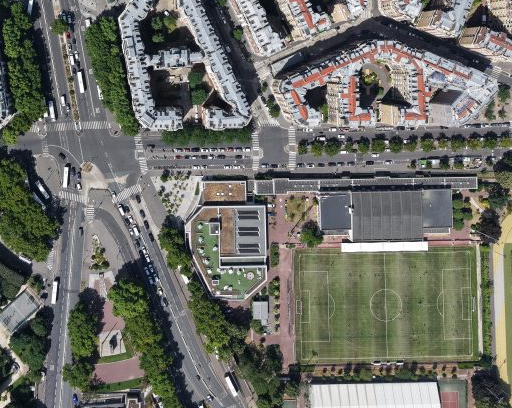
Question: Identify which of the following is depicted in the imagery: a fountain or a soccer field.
soccer field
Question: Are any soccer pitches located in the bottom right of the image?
Yes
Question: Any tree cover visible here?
Yes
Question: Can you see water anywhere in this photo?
No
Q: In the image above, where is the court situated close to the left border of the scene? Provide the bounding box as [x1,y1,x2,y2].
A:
[0,288,39,334]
